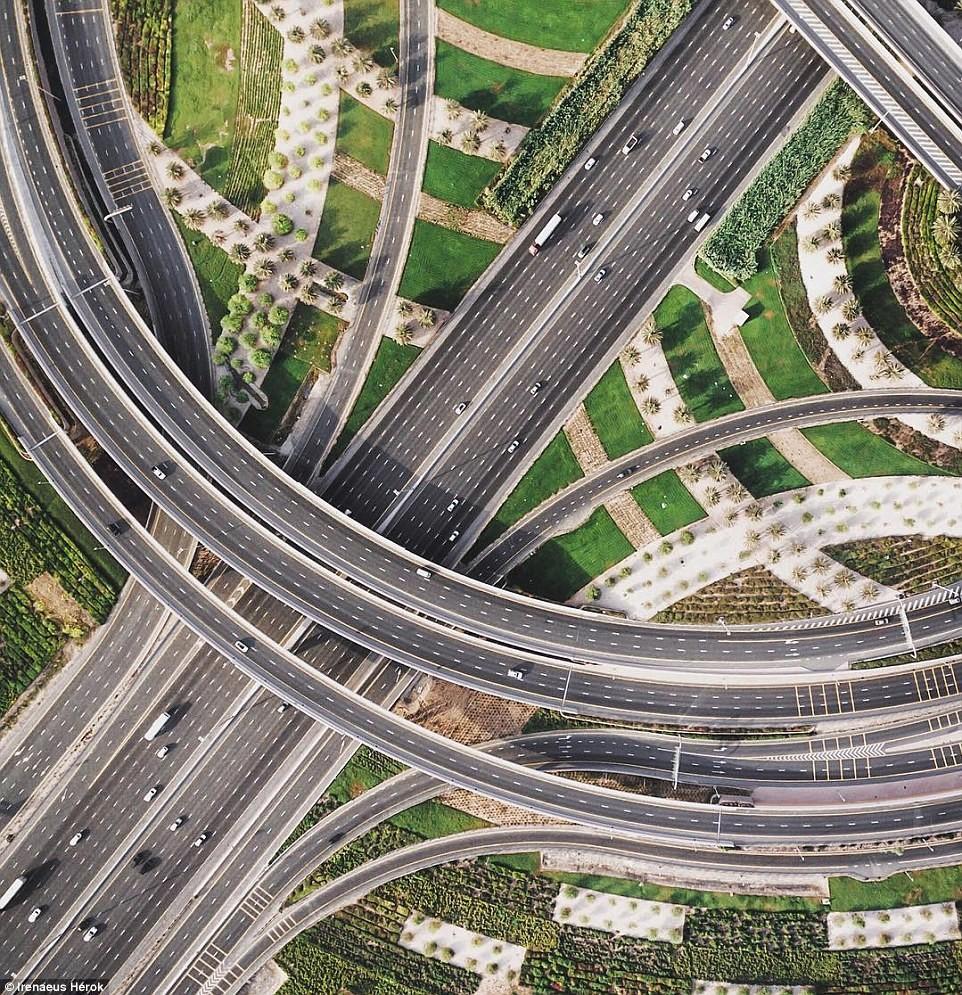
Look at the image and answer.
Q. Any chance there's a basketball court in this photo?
No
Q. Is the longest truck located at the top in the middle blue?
No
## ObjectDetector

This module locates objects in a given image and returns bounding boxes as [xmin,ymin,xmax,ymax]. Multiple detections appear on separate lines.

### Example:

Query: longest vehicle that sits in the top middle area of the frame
[531,209,565,252]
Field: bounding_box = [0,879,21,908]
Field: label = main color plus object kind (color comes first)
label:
white truck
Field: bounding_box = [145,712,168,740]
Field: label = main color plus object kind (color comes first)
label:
white truck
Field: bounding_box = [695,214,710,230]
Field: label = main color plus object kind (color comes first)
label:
white vehicle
